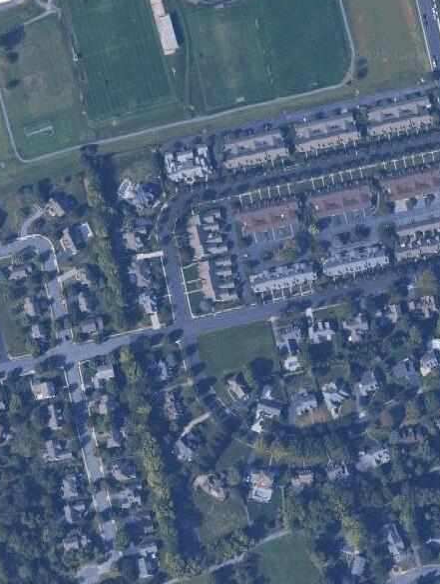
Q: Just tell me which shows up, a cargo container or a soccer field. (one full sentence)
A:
There is a soccer field in the scene.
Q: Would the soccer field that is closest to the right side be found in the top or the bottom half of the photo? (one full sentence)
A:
It is in the top half that the soccer field that is closest to the right side appears.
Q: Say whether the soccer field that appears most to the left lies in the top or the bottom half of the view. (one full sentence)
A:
Seen from above, the soccer field that appears most to the left lies in the top half of the view.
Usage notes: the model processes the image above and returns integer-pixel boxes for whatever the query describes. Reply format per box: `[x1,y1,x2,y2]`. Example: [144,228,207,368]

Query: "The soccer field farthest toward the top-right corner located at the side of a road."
[254,0,349,93]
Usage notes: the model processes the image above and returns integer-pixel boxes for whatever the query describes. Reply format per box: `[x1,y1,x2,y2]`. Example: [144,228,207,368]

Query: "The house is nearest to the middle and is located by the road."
[199,259,240,302]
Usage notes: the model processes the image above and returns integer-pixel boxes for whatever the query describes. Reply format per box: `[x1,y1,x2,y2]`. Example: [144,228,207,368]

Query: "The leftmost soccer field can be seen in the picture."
[61,0,181,130]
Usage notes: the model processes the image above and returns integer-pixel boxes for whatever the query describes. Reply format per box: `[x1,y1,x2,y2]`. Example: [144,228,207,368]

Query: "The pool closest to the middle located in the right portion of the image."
[283,354,300,372]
